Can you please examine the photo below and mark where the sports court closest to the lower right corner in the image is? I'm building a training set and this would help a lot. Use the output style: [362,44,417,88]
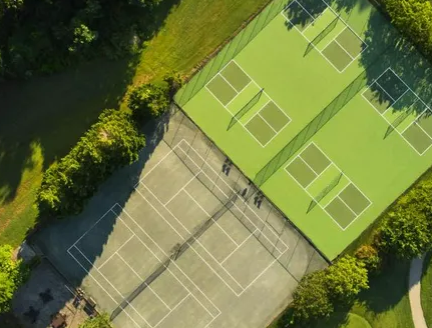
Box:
[285,142,371,230]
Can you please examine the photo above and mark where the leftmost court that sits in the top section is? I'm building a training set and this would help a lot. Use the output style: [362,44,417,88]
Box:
[205,60,291,148]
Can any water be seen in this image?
No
